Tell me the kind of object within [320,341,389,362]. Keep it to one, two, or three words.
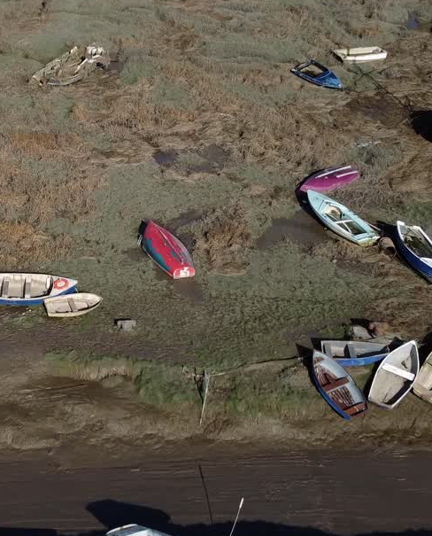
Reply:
boat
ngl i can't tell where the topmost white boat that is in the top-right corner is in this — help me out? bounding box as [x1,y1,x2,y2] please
[336,50,387,63]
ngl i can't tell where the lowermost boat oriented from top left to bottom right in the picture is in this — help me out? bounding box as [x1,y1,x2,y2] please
[312,351,368,416]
